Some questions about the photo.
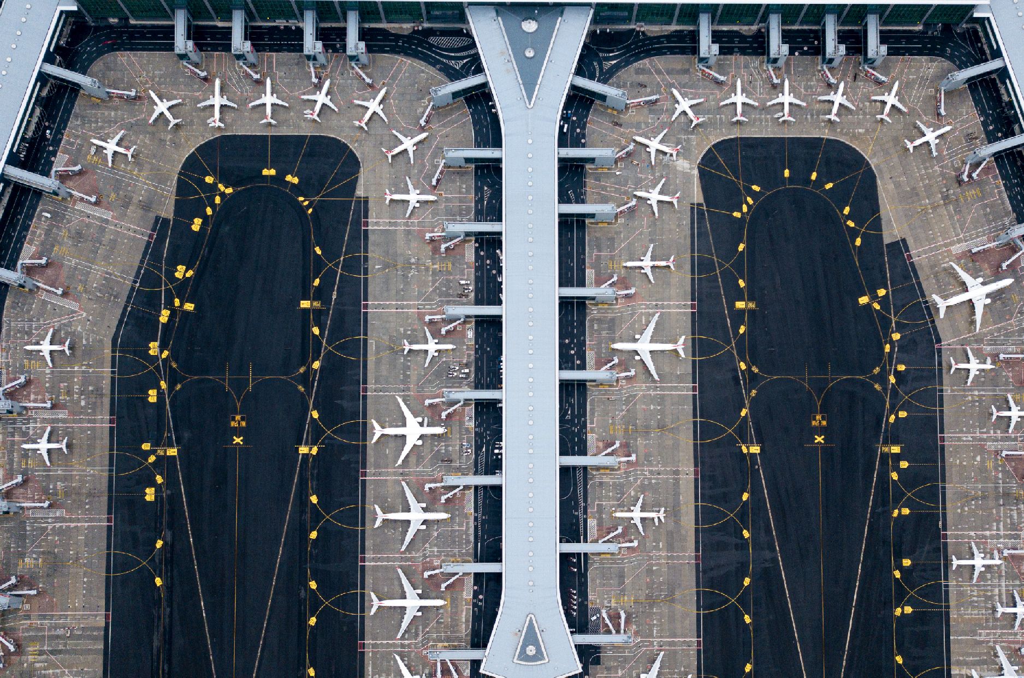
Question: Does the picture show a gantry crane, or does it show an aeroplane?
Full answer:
Visible in the photo is an aeroplane.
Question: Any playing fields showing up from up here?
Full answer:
No, there is no playing field in the image.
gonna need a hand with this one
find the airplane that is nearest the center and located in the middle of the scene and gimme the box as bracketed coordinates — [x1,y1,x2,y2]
[403,325,456,367]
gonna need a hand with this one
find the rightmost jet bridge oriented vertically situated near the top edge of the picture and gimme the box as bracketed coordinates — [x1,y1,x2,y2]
[862,15,888,84]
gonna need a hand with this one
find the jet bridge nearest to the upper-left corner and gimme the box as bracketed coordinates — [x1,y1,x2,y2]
[41,62,138,100]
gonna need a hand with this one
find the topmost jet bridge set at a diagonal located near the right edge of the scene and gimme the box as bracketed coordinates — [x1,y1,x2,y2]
[936,57,1005,117]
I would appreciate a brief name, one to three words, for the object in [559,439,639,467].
jet bridge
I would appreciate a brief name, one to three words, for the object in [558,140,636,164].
jet bridge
